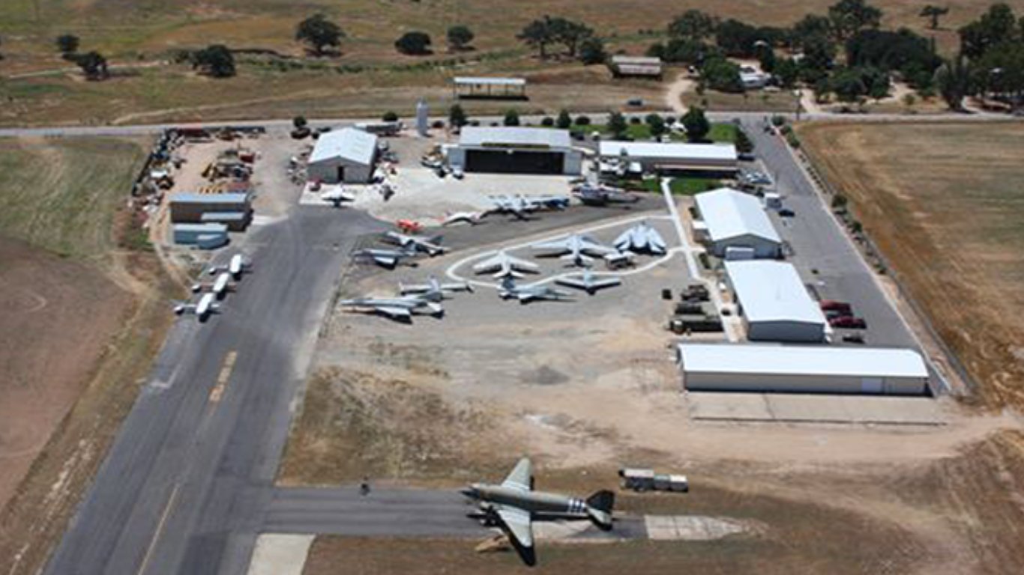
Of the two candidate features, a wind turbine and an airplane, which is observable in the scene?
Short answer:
airplane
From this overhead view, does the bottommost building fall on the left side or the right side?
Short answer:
right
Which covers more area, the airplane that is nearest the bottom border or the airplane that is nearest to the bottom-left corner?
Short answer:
the airplane that is nearest the bottom border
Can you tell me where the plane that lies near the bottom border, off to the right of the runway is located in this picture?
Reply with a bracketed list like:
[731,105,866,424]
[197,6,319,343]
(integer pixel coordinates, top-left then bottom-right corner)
[459,457,613,550]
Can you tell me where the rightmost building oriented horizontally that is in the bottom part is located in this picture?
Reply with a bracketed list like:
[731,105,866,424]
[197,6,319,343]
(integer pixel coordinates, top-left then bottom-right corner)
[677,343,934,397]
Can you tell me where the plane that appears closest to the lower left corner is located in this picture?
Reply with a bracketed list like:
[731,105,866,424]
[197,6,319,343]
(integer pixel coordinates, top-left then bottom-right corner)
[172,295,224,319]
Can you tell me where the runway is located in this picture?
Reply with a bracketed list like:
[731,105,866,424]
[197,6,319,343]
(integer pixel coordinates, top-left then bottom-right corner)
[46,205,384,575]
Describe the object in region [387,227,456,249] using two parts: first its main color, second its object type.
gray airplane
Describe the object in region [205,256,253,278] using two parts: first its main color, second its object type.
white airplane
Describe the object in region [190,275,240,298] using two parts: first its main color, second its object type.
white airplane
